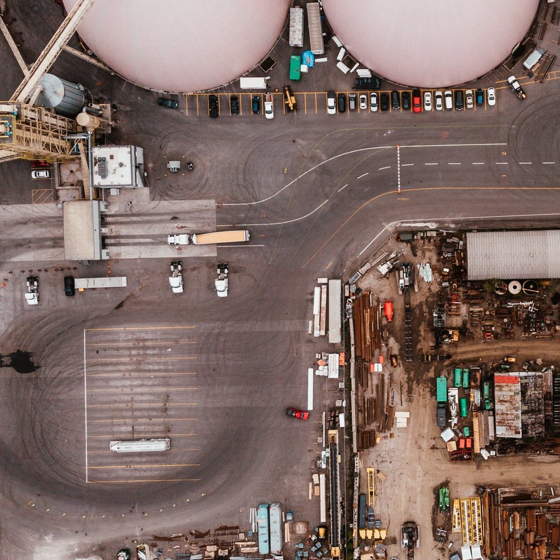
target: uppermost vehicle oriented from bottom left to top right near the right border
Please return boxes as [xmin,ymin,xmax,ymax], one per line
[524,44,546,71]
